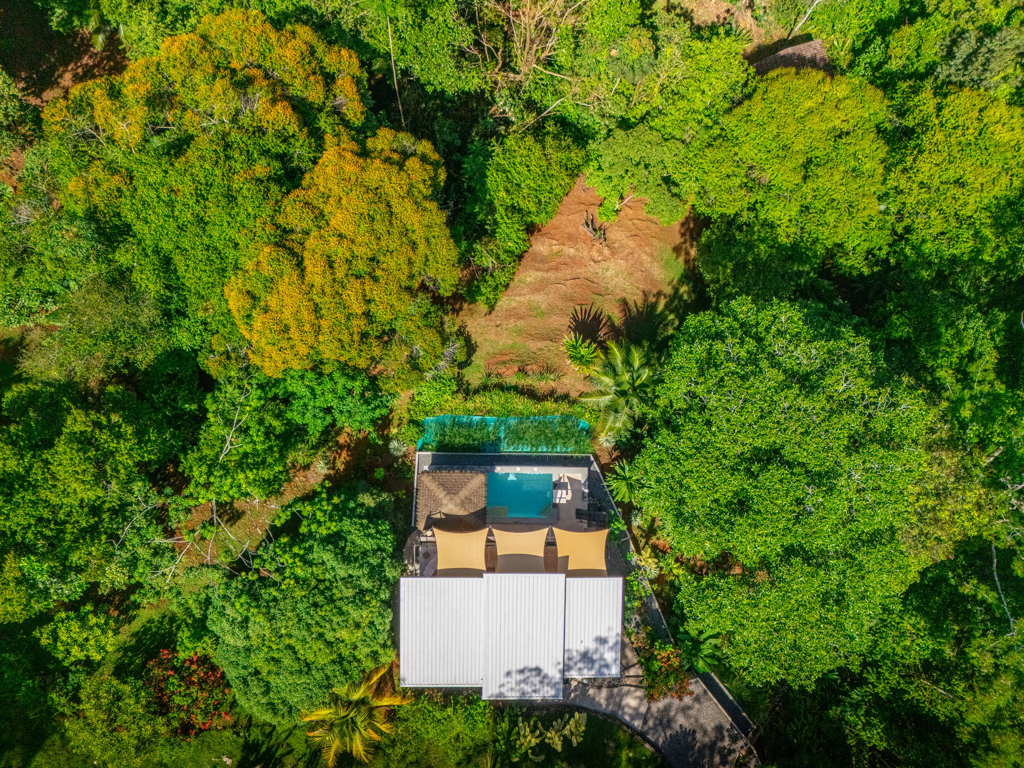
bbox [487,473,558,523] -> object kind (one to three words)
swimming pool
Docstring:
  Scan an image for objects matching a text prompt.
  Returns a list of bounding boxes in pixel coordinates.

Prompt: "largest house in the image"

[399,573,623,700]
